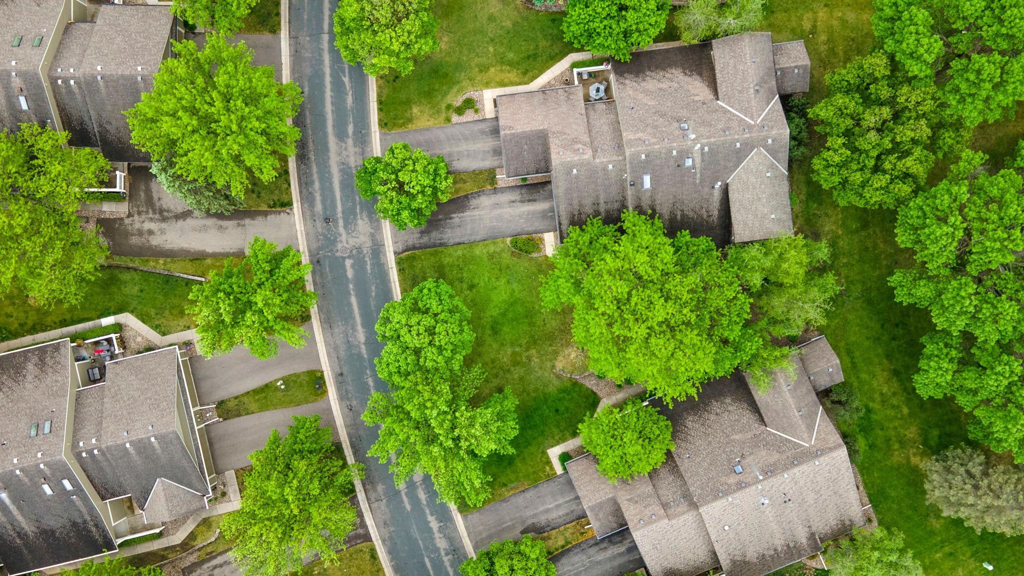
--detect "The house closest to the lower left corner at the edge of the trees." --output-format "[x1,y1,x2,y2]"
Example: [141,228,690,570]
[0,338,220,576]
